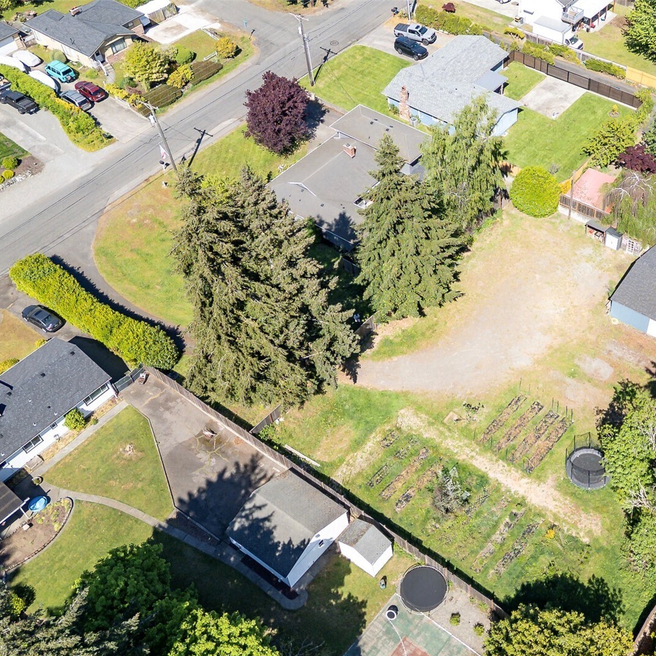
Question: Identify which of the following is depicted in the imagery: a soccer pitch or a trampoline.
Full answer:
The one in the frame is a trampoline.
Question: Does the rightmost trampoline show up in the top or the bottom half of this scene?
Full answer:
The rightmost trampoline is in the bottom half of the image.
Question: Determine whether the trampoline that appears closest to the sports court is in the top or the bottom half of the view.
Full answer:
The trampoline that appears closest to the sports court sits in the bottom half of the picture.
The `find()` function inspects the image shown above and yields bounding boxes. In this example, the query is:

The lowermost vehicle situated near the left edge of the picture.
[15,301,66,335]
